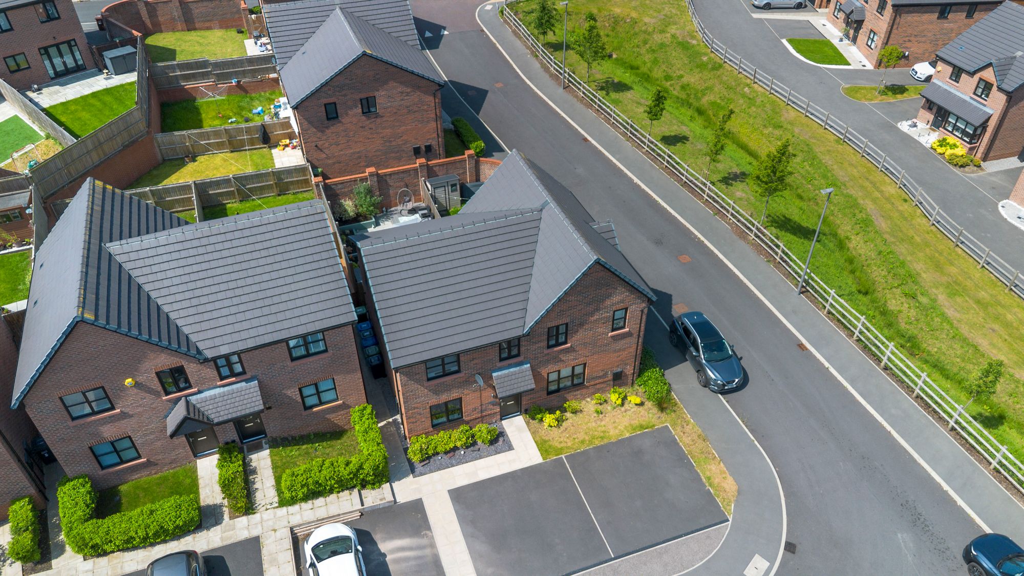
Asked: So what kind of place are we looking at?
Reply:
residential area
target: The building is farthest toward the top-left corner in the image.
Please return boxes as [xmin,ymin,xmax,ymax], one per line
[0,0,96,96]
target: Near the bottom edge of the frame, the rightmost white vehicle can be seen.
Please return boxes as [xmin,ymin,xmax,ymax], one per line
[299,517,370,576]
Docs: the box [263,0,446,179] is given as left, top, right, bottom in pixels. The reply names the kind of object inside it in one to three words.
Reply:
house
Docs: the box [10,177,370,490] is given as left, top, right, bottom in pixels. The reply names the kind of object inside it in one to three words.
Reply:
house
